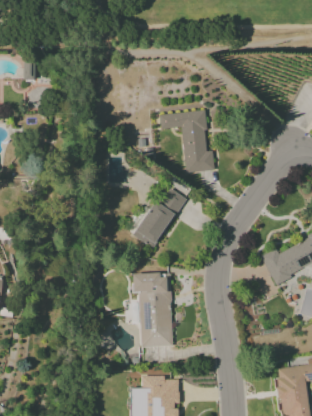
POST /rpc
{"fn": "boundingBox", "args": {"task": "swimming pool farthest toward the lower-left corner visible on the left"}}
[114,326,134,352]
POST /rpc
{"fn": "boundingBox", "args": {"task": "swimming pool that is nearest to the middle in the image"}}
[110,158,128,183]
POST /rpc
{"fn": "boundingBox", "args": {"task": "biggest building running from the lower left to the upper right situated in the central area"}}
[132,182,189,247]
